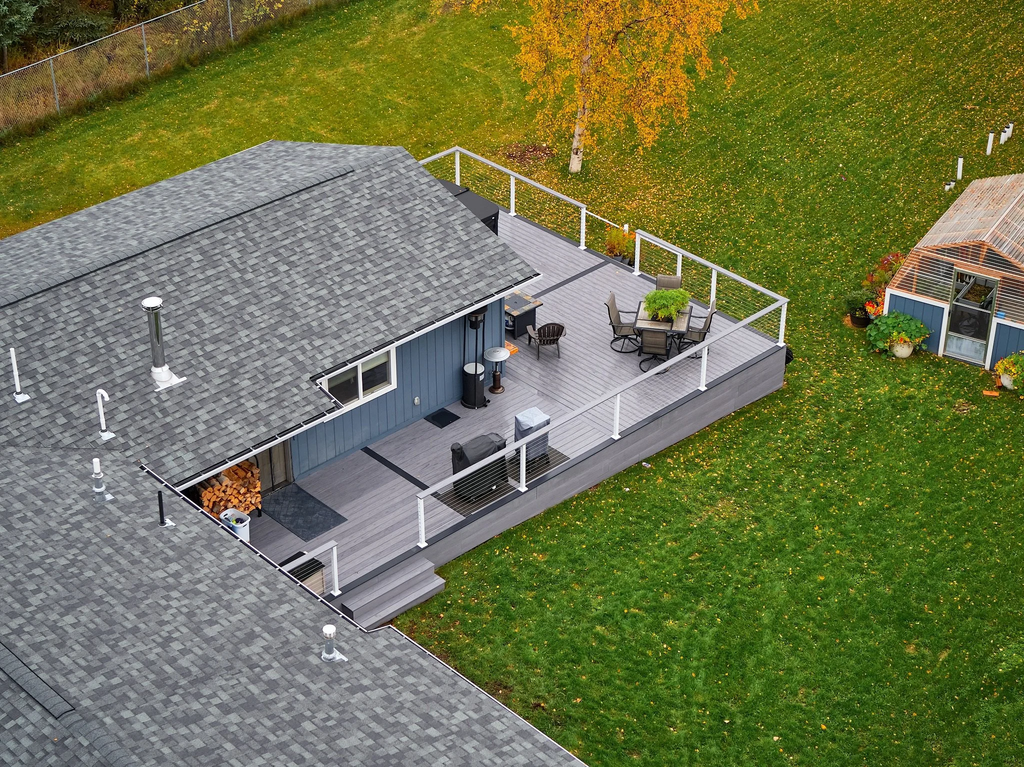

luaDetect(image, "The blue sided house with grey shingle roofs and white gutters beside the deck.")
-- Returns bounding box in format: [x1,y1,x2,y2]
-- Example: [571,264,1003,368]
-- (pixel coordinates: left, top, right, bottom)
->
[0,145,588,767]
